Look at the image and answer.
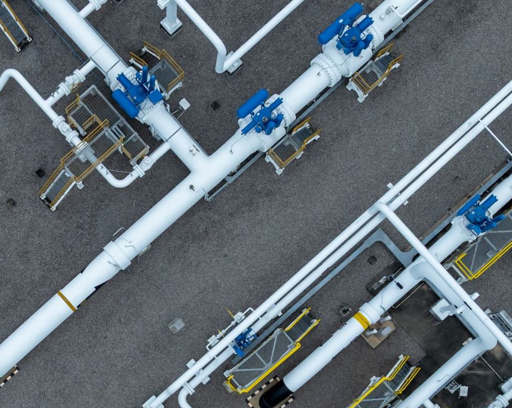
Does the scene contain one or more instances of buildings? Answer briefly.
No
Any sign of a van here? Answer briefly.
No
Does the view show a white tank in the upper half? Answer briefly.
No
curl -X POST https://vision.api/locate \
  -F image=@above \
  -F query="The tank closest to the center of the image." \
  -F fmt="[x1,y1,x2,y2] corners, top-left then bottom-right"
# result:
[238,89,267,117]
